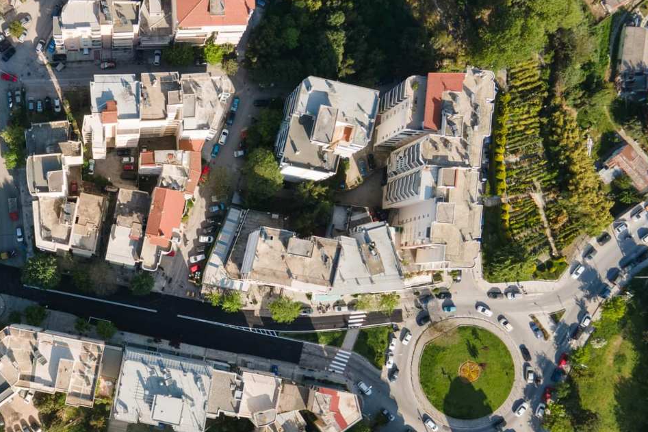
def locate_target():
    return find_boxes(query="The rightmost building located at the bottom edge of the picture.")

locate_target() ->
[306,380,362,432]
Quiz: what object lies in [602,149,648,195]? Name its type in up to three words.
house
